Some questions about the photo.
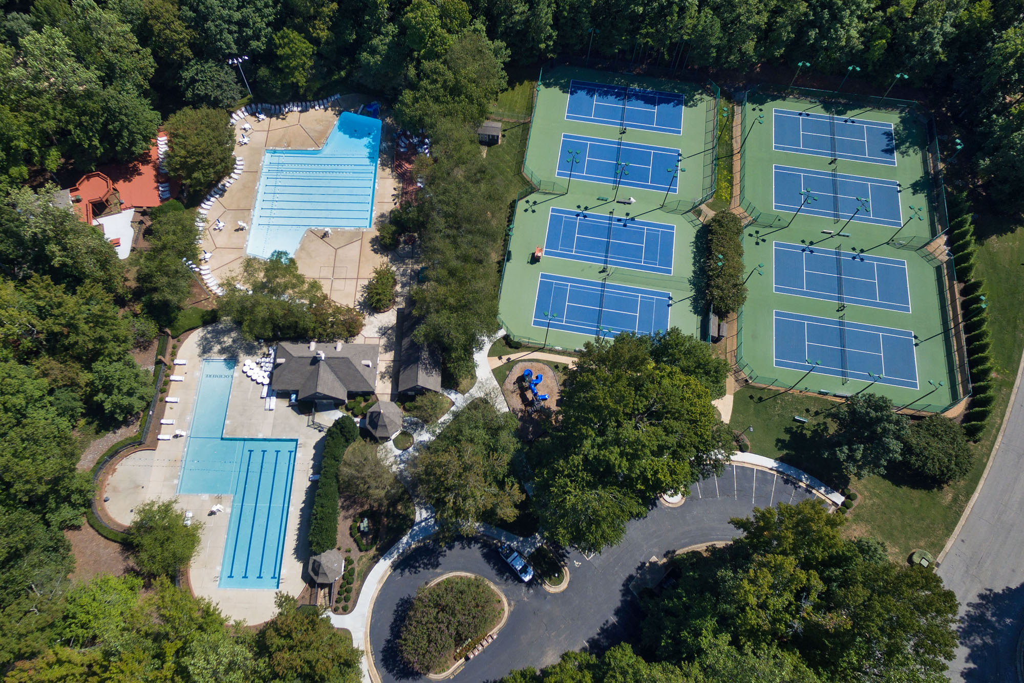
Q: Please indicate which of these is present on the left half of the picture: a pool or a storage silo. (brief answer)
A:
pool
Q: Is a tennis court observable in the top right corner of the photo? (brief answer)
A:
Yes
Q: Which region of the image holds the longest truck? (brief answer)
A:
bottom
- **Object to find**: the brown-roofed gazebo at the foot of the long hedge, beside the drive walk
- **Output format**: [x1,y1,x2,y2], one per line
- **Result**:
[307,547,347,587]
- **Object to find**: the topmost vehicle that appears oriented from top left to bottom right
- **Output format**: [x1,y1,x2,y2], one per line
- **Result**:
[499,542,532,582]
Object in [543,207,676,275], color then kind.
blue tennis court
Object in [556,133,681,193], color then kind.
blue tennis court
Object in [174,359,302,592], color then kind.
blue swimming pool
